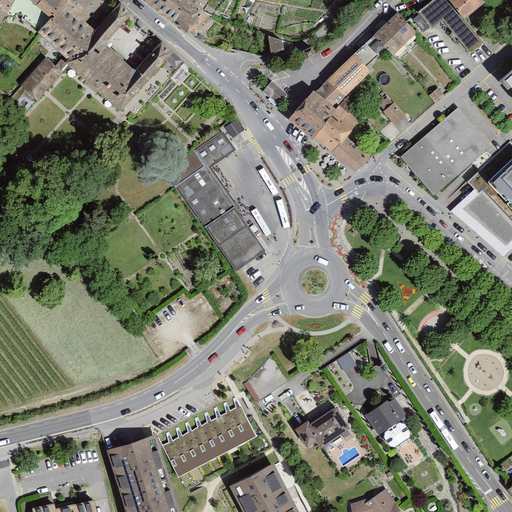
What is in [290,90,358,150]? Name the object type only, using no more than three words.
house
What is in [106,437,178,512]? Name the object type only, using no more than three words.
building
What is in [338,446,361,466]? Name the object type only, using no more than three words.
swimming pool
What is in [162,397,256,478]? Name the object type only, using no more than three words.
building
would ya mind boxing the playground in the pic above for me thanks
[464,350,510,395]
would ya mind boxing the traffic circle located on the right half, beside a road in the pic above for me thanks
[280,247,350,317]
